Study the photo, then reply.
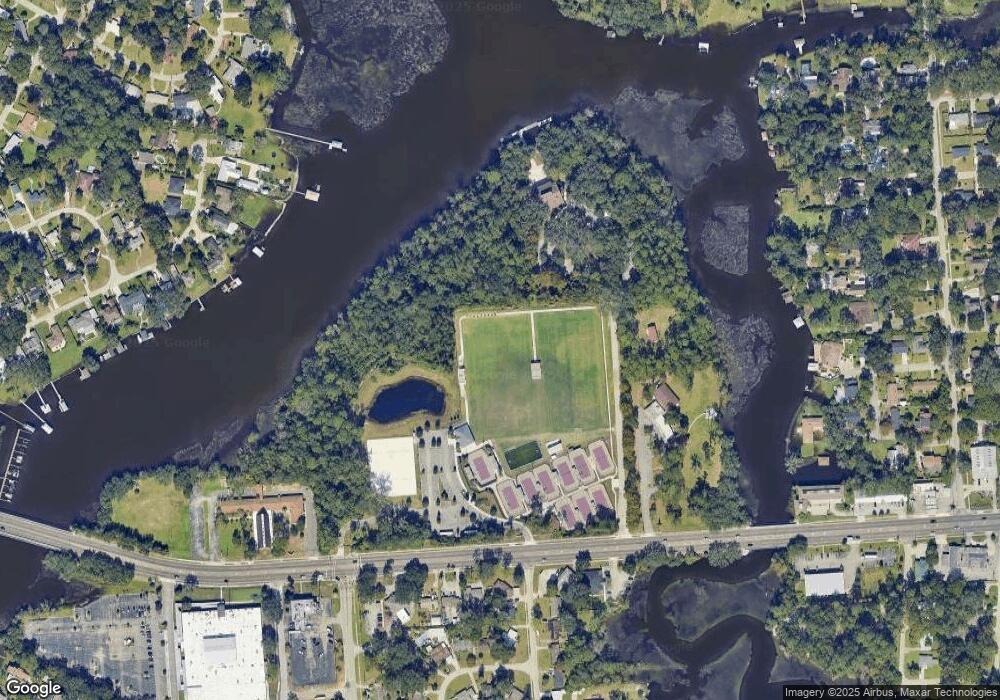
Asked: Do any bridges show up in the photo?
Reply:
Yes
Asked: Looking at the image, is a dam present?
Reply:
No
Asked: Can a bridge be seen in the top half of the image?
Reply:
No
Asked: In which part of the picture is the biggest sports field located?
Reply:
center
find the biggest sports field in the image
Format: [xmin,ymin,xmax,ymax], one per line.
[461,308,615,505]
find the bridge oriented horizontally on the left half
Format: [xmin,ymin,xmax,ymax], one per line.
[0,512,74,552]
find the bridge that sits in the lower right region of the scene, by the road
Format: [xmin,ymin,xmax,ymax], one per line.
[748,523,796,549]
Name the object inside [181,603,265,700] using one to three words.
building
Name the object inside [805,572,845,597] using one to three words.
shed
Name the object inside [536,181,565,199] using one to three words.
house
